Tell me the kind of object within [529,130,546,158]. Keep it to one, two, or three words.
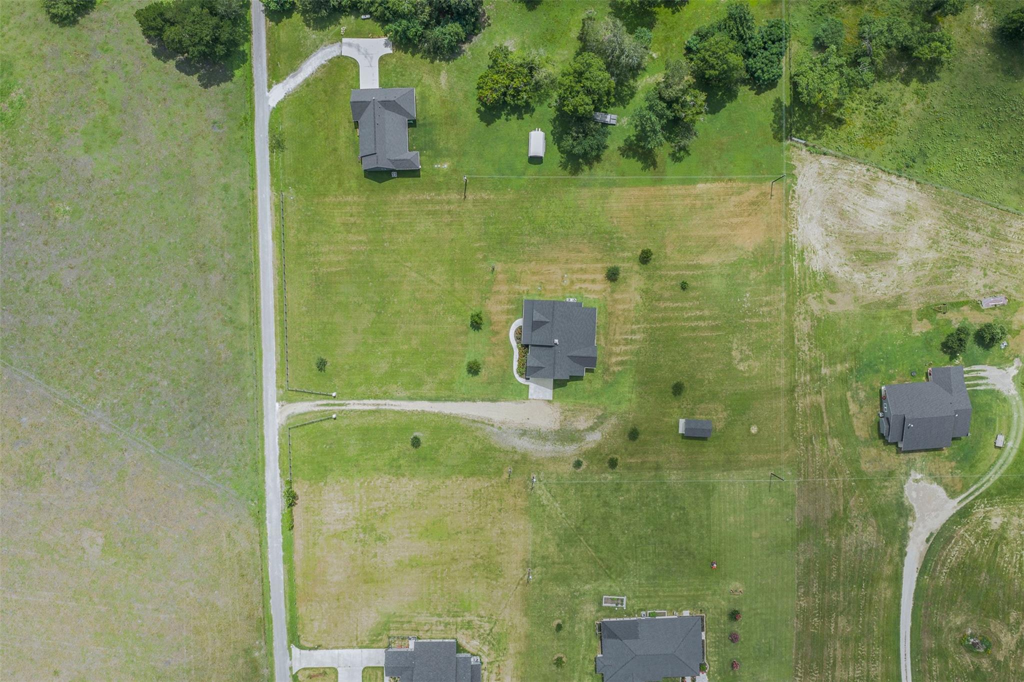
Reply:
shed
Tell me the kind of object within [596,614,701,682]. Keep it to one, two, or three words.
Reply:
house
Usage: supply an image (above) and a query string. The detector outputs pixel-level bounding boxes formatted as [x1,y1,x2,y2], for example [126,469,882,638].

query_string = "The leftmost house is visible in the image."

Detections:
[350,88,420,170]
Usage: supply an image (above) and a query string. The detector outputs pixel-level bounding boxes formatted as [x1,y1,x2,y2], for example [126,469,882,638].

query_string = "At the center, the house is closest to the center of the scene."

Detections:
[521,299,598,379]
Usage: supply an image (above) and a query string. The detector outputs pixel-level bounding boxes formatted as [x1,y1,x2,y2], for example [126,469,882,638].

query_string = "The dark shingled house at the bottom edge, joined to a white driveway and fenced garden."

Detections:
[384,639,481,682]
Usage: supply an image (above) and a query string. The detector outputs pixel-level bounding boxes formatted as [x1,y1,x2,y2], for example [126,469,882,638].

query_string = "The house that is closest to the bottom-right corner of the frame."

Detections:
[879,366,972,451]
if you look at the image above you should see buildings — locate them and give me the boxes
[521,299,598,379]
[384,639,481,682]
[678,418,712,437]
[529,130,546,158]
[879,366,972,451]
[596,614,701,682]
[350,88,420,170]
